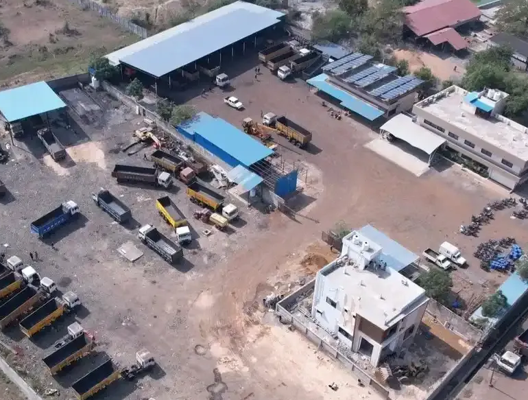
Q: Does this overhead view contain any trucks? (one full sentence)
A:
Yes, you can see a truck in this photo.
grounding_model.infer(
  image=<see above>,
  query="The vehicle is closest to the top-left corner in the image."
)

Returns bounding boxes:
[4,117,30,147]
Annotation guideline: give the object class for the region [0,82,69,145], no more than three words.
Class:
shed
